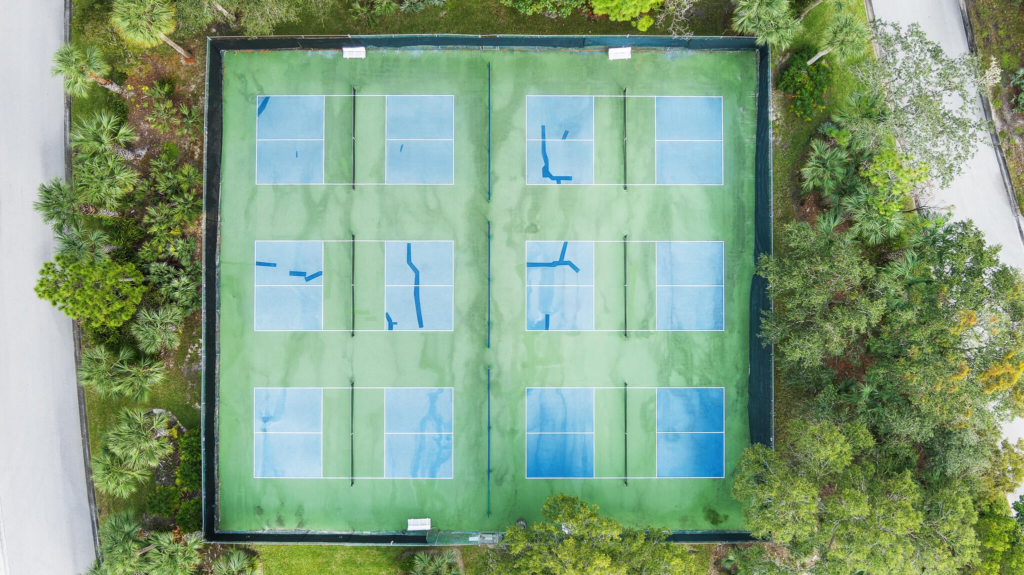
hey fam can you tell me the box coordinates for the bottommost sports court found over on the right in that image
[526,388,725,478]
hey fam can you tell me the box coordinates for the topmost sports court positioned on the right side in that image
[526,95,723,185]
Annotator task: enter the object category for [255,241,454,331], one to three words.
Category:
sports court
